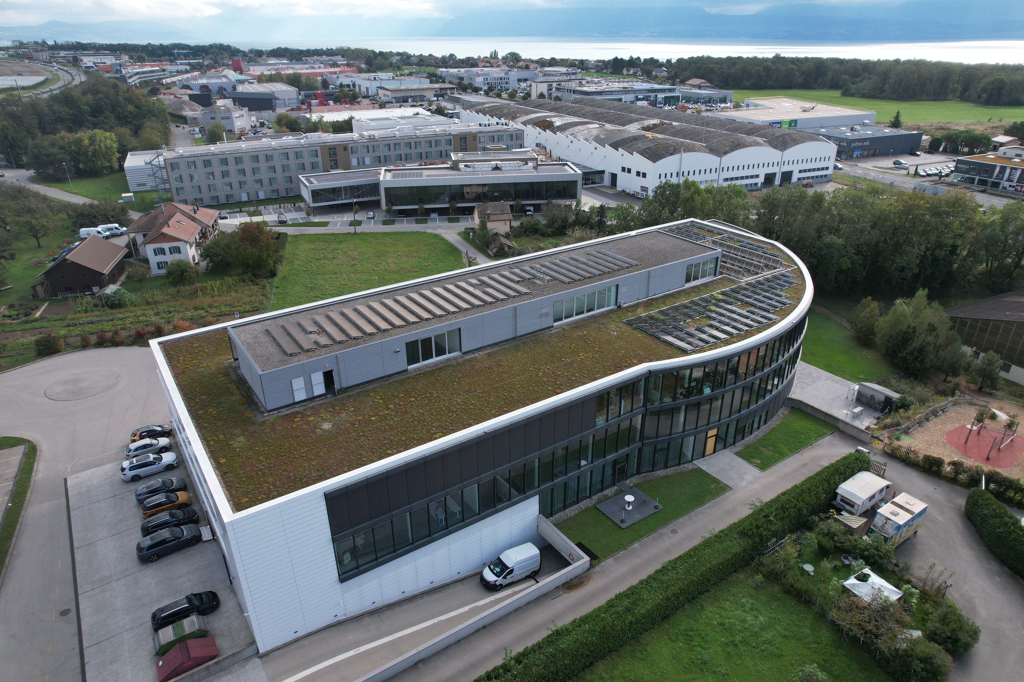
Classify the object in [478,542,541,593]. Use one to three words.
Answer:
van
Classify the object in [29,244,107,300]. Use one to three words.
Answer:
barn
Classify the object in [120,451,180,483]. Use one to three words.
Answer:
car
